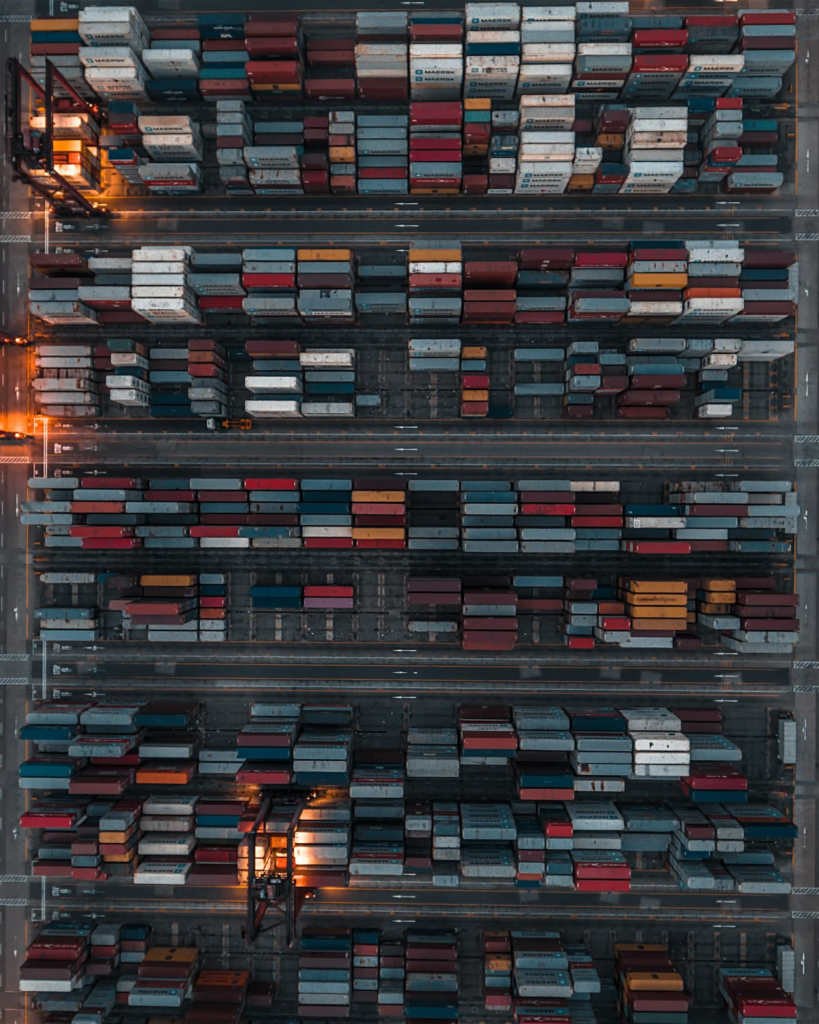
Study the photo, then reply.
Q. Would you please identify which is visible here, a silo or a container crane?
container crane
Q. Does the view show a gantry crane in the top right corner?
No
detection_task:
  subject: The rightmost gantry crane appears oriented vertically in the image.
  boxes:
[242,781,312,938]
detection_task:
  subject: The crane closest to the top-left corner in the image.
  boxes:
[7,57,103,221]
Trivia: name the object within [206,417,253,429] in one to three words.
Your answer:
vehicle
